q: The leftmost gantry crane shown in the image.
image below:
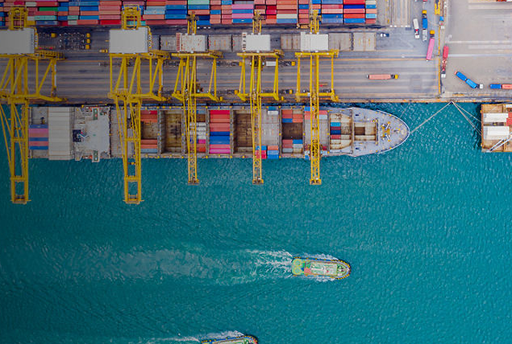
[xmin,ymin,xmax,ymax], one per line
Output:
[0,5,66,203]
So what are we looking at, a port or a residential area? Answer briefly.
port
